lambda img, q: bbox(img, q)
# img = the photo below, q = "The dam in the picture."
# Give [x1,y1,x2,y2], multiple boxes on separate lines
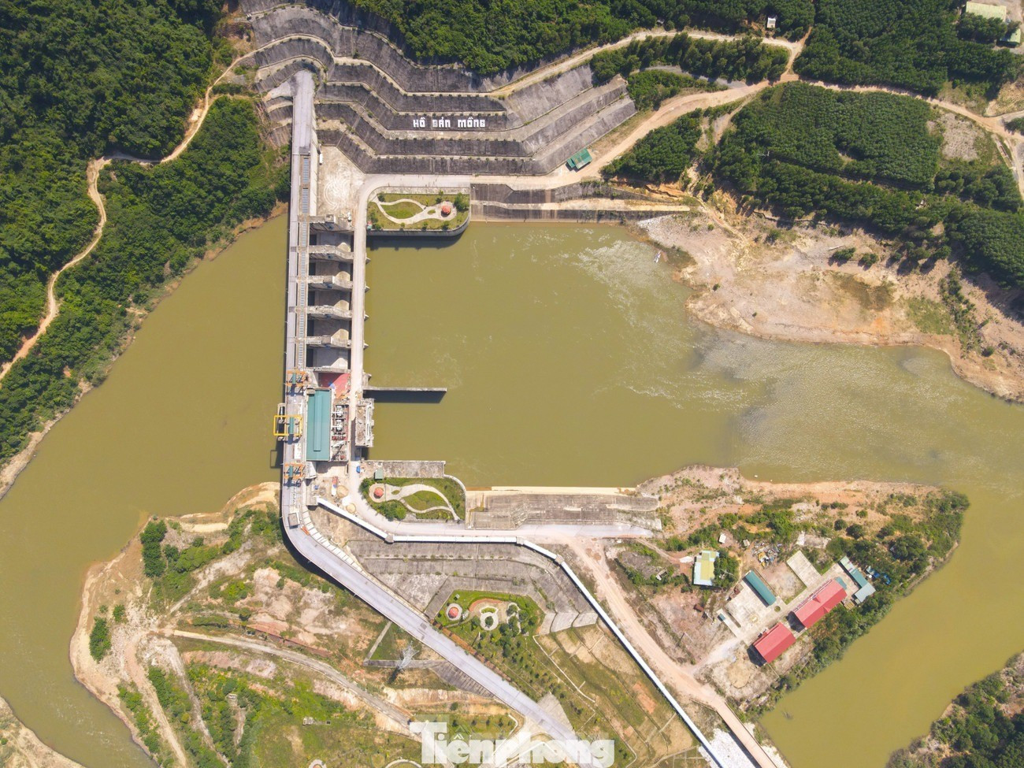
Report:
[266,71,616,768]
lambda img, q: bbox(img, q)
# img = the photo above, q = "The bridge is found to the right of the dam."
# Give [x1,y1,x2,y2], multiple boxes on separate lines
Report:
[713,701,775,768]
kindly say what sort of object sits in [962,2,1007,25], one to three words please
shed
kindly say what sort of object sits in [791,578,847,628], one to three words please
building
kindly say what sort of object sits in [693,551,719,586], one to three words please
house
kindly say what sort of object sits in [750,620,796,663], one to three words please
building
